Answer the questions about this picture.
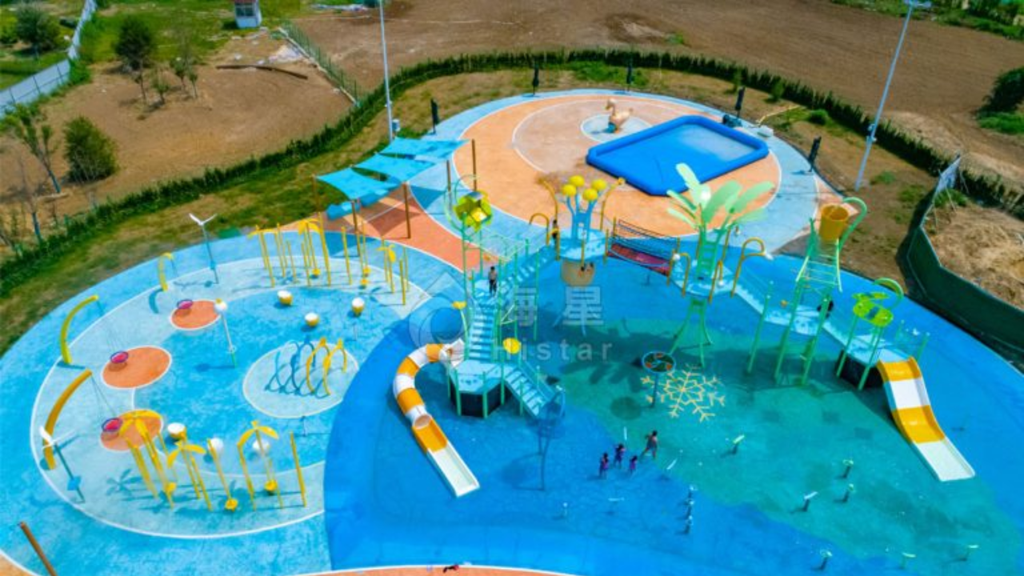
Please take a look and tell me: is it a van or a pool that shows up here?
pool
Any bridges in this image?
Yes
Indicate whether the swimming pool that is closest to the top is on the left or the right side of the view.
right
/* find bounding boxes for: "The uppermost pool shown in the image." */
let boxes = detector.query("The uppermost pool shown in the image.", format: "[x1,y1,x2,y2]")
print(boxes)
[592,112,767,194]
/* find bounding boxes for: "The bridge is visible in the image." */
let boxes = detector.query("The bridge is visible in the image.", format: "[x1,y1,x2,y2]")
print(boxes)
[602,221,682,287]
